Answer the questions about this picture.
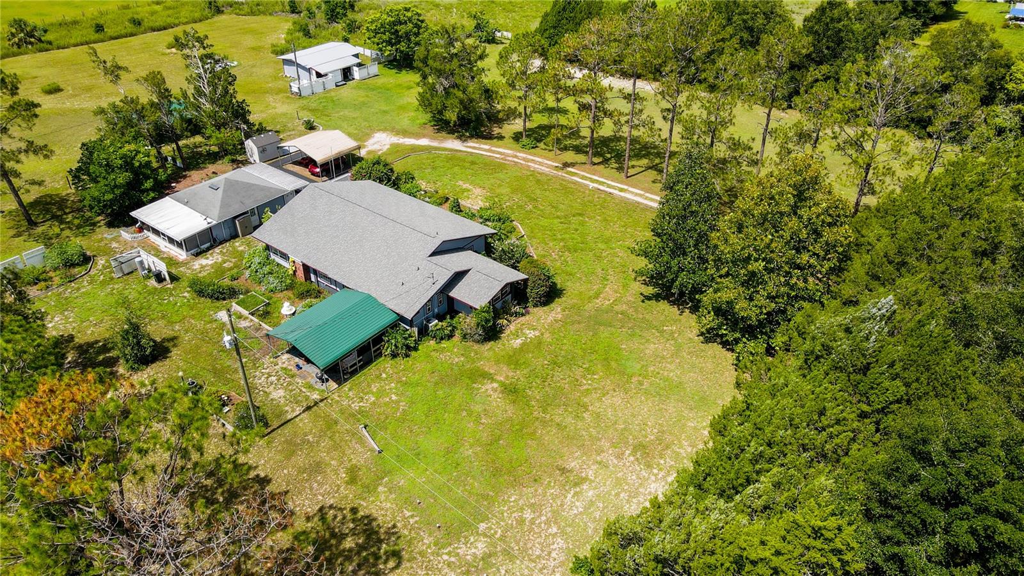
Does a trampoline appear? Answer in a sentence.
No, this view has no trampoline in it.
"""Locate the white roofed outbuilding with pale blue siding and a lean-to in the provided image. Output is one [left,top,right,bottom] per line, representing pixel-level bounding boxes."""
[275,42,363,83]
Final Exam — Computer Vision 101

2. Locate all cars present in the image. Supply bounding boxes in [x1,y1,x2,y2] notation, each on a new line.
[309,157,346,176]
[298,153,315,165]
